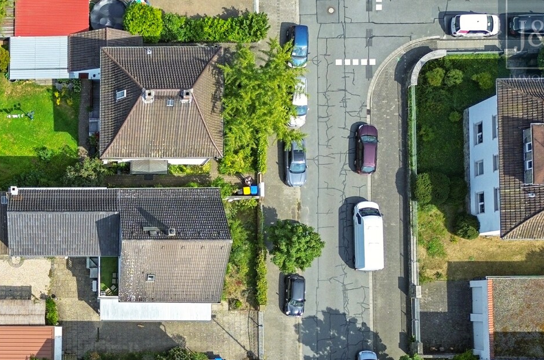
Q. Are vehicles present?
Yes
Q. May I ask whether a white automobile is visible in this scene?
Yes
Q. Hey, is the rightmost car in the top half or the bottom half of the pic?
top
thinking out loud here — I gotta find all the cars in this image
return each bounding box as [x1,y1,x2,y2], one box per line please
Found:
[505,15,544,39]
[286,23,310,71]
[353,124,380,175]
[354,348,379,360]
[282,272,308,317]
[283,137,309,189]
[448,12,496,39]
[286,79,313,126]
